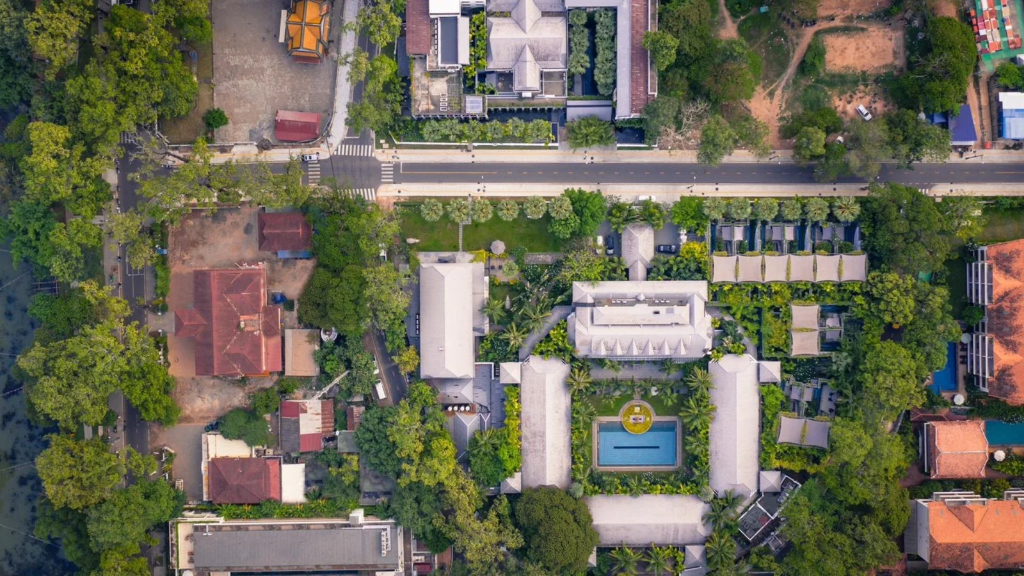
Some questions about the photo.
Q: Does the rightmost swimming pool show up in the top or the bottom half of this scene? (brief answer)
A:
bottom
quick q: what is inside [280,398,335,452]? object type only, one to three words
shed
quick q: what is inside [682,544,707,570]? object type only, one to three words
building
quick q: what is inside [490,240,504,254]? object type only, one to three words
umbrella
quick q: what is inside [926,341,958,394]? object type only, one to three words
swimming pool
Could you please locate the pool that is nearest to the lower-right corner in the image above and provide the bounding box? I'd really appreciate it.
[983,418,1024,447]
